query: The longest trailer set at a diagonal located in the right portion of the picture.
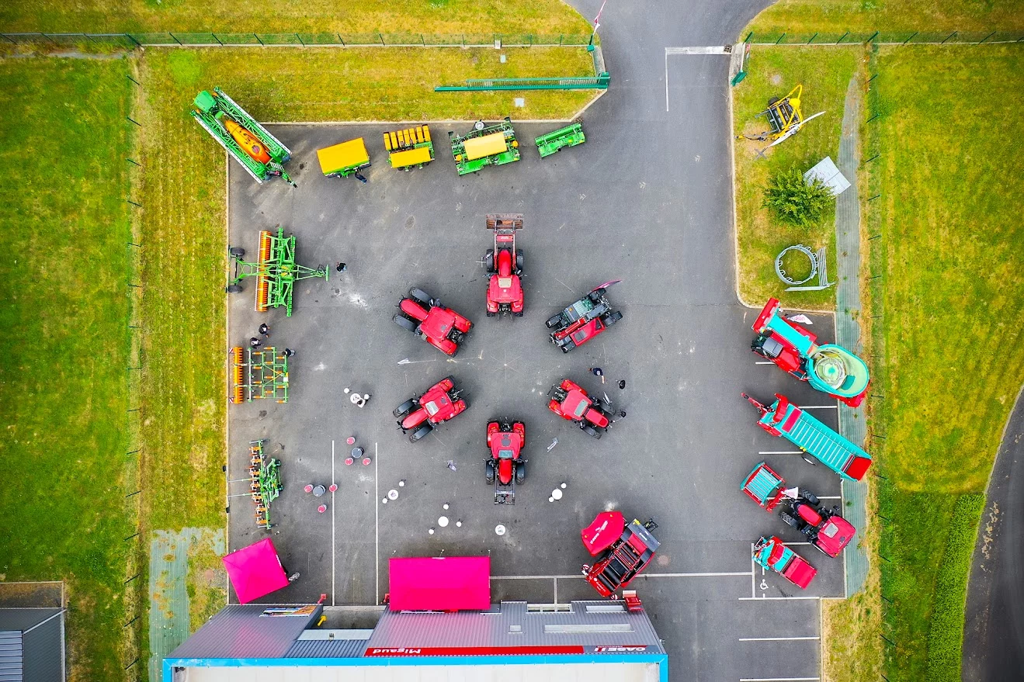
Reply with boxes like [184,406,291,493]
[740,392,872,484]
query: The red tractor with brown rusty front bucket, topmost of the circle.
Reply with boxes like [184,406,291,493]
[484,220,526,322]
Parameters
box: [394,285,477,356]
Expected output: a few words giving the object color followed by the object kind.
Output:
red work vehicle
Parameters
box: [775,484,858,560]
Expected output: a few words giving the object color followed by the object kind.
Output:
red work vehicle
